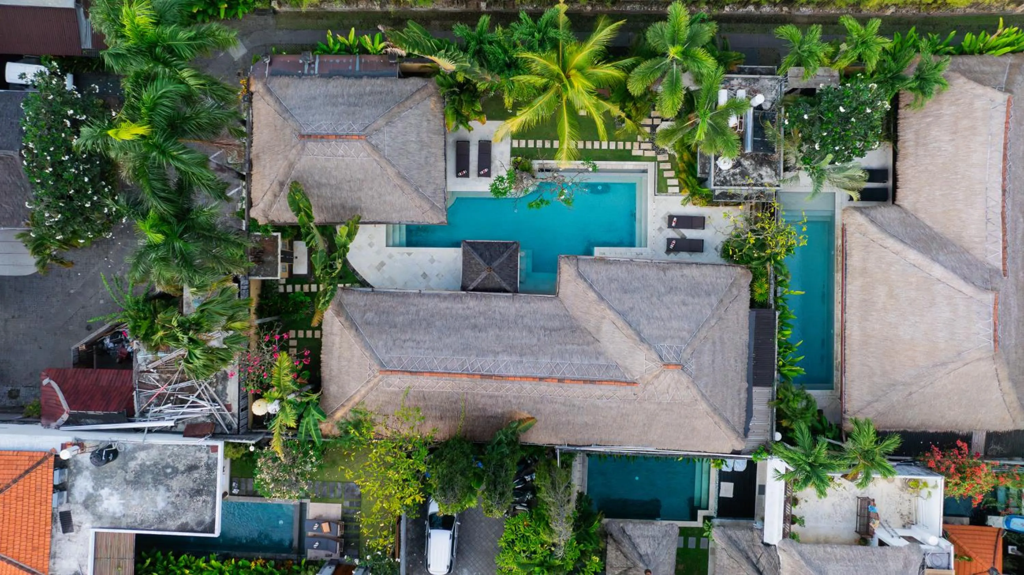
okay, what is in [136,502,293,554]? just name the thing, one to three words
swimming pool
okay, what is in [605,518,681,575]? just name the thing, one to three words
shed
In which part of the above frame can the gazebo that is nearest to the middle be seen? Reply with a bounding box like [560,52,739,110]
[458,237,523,293]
